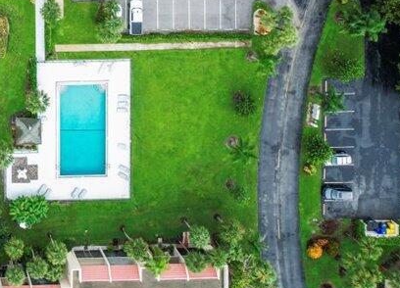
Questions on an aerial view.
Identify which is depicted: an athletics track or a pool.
pool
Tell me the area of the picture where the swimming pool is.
left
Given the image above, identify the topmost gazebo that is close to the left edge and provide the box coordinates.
[13,114,43,145]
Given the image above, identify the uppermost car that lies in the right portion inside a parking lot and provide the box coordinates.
[323,151,353,166]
